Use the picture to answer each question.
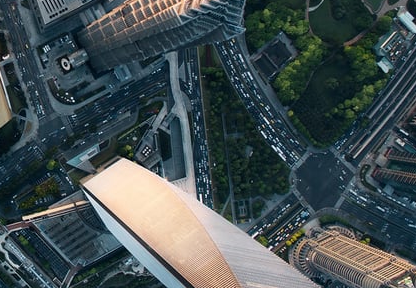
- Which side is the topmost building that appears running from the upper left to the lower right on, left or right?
right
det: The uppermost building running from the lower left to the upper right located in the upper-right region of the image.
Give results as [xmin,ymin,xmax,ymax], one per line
[372,31,399,58]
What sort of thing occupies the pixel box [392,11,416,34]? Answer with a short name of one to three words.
building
